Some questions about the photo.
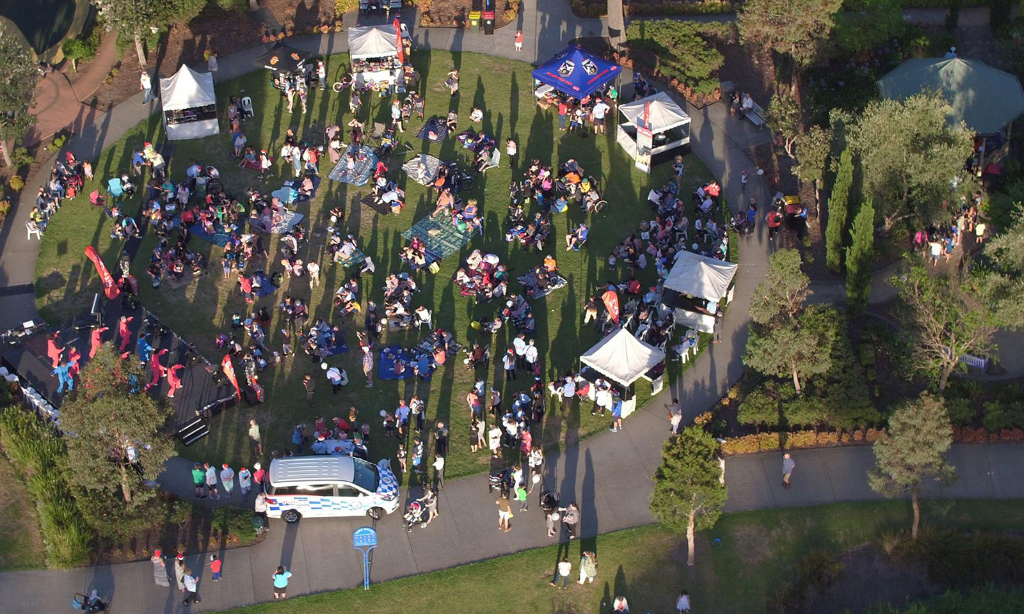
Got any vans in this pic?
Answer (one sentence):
Yes, there is a van in the image.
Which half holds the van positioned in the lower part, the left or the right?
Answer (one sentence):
You can find the van positioned in the lower part on the left side of the picture.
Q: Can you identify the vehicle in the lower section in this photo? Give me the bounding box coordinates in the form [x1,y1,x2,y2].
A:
[260,456,405,525]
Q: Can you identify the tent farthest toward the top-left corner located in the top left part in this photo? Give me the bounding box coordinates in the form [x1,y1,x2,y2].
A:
[158,67,222,140]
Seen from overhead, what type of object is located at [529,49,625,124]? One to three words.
gazebo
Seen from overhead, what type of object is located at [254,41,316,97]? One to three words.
gazebo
